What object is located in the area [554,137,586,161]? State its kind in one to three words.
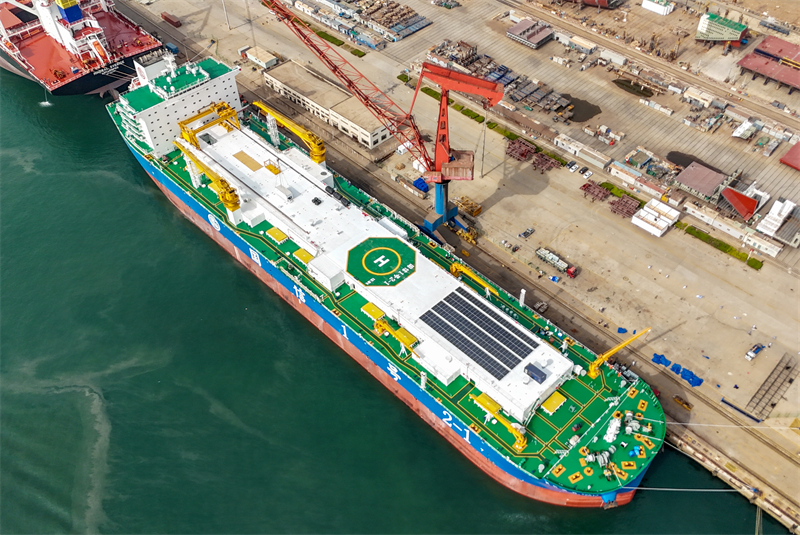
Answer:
building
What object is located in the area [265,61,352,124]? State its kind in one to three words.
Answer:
building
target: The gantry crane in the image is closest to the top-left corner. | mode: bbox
[180,97,240,148]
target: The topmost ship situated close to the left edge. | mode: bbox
[0,0,158,109]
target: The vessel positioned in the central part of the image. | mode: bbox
[105,47,659,512]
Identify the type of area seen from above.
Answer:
port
